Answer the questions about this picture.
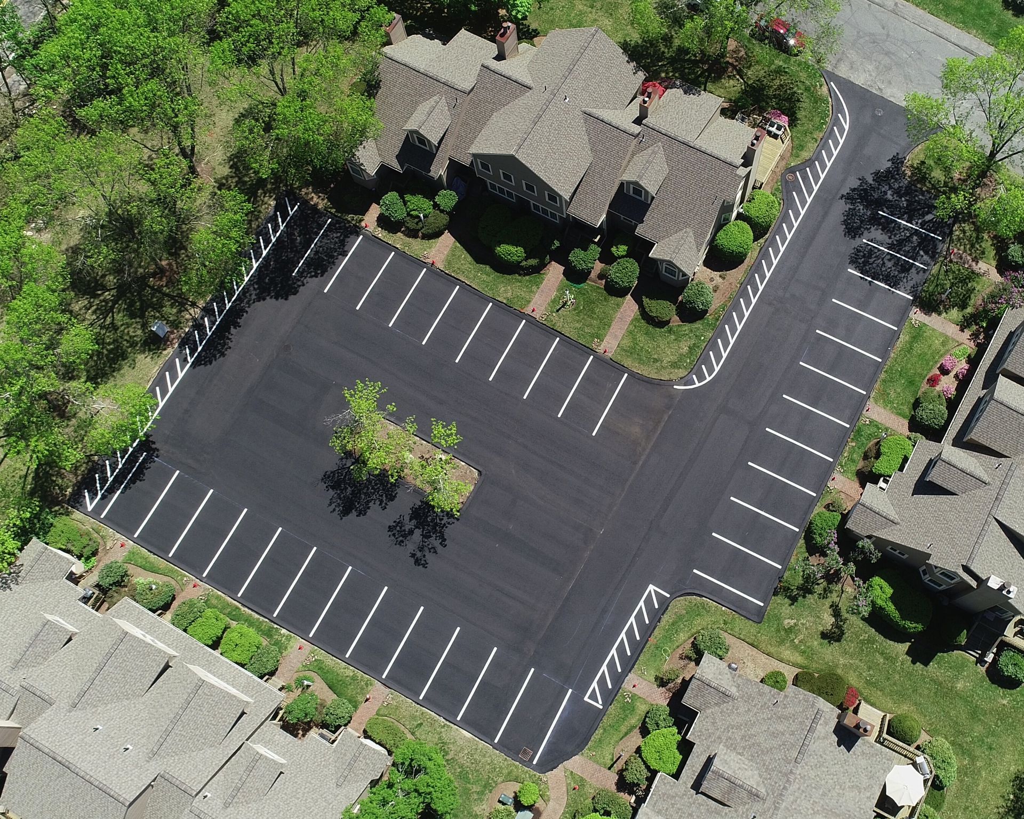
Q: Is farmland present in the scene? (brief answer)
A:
No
